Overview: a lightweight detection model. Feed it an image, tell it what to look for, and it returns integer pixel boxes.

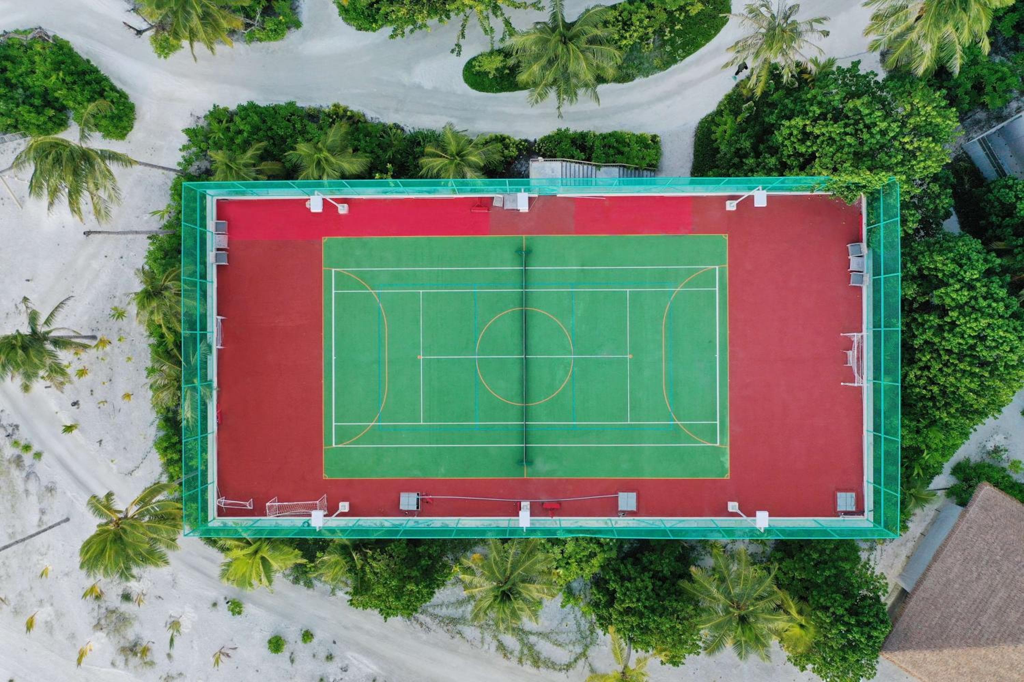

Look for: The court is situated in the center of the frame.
[217,192,862,517]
